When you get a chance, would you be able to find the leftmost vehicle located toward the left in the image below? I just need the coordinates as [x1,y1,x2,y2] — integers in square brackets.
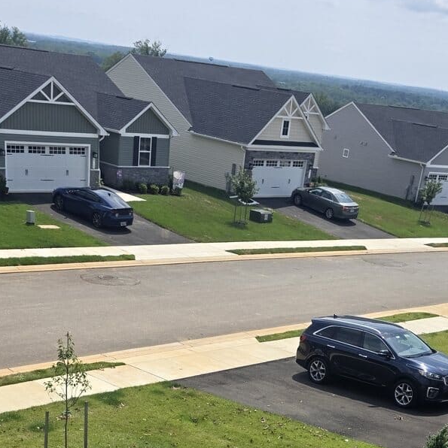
[54,188,141,227]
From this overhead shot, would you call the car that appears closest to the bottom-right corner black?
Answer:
Yes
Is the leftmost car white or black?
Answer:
black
